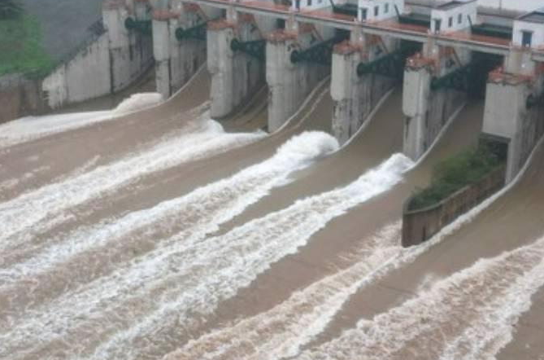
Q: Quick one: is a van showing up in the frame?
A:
No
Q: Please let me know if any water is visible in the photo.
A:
Yes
